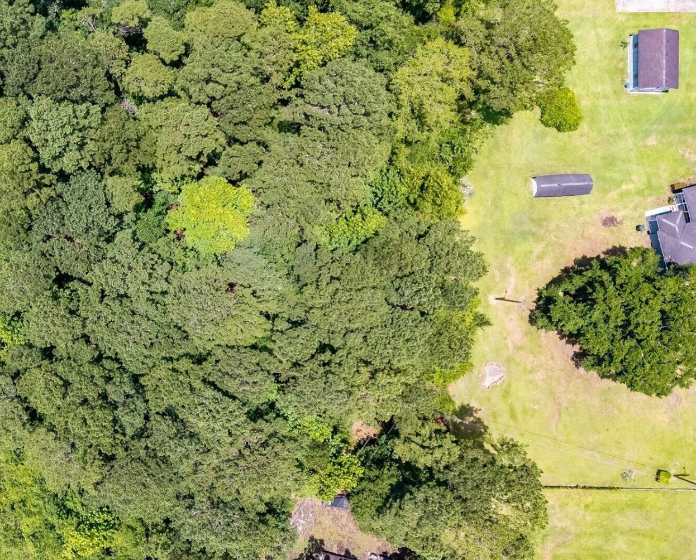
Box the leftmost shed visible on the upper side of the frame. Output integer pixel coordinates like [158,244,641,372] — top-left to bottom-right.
[530,173,597,198]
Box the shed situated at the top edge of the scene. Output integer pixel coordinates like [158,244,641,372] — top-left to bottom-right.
[627,27,677,95]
